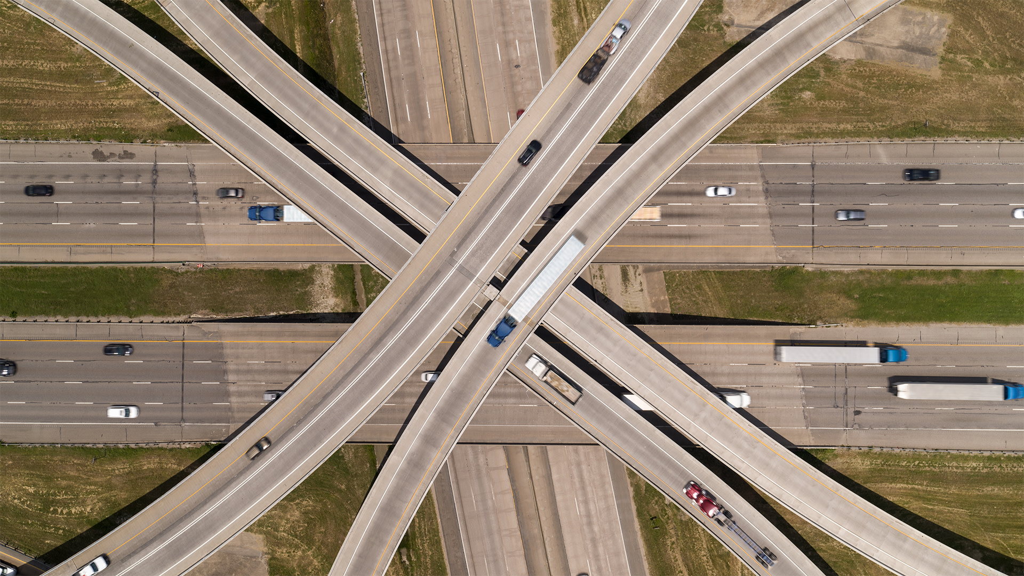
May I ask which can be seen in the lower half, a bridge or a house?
bridge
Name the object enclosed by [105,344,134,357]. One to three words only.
vehicle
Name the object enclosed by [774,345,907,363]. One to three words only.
vehicle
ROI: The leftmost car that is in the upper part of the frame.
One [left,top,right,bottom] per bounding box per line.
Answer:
[27,184,53,197]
